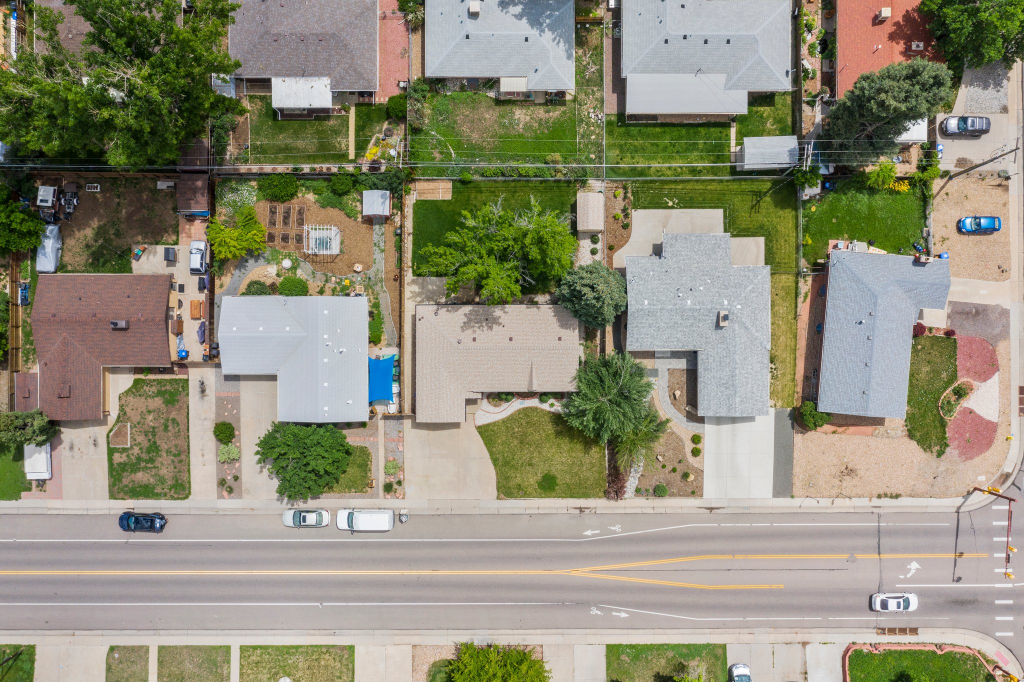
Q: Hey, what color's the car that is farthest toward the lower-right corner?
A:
white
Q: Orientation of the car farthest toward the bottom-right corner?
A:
horizontally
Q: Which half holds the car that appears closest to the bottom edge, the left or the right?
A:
right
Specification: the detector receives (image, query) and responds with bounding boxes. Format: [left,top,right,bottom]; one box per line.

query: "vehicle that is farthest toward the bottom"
[729,660,752,682]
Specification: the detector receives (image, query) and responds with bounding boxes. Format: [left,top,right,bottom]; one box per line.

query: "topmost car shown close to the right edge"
[940,114,993,137]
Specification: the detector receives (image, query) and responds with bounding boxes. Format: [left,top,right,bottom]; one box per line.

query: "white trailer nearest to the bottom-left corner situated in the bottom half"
[22,443,52,486]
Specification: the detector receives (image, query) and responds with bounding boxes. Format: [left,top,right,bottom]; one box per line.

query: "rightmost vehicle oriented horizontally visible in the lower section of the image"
[870,590,916,613]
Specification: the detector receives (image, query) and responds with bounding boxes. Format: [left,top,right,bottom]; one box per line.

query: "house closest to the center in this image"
[415,304,584,423]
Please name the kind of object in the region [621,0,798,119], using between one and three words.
house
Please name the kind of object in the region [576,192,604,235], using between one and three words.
shed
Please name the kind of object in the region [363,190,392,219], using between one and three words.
shed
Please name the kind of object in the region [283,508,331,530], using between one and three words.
car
